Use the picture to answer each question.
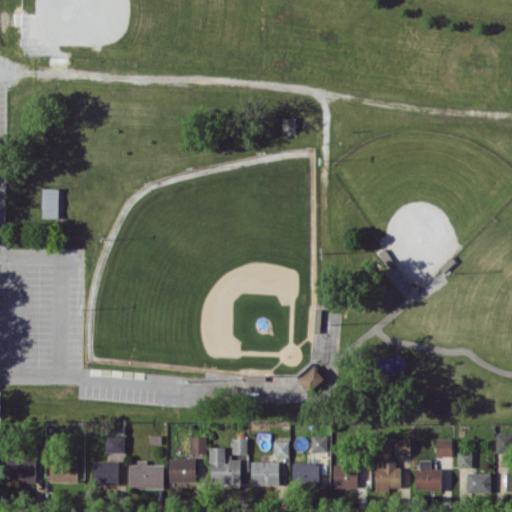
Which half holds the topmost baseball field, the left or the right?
left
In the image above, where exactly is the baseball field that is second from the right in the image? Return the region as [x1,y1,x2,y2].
[89,149,317,378]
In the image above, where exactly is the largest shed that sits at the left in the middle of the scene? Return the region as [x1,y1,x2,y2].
[42,188,60,219]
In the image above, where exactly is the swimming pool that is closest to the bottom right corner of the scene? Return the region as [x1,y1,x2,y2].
[294,436,310,453]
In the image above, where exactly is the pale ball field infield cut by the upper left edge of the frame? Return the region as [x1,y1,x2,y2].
[35,0,128,58]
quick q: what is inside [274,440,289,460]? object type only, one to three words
building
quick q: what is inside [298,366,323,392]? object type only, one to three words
building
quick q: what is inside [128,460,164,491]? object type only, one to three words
house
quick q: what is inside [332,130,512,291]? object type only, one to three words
baseball field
